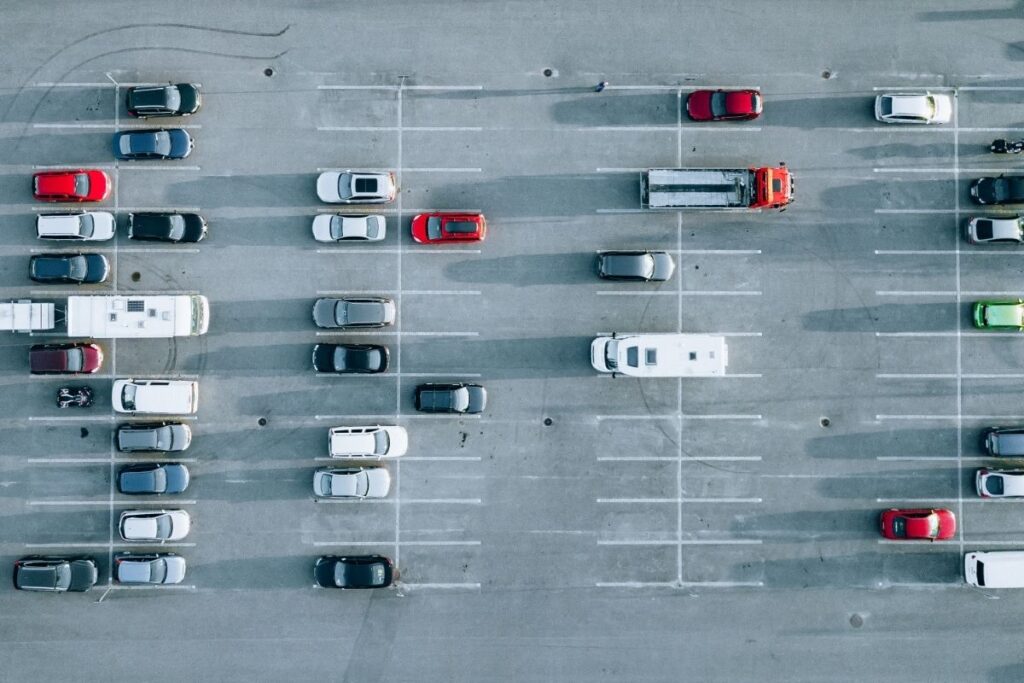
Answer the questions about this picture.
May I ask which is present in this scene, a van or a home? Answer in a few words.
van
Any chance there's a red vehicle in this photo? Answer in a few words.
Yes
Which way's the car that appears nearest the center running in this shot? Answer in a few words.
horizontally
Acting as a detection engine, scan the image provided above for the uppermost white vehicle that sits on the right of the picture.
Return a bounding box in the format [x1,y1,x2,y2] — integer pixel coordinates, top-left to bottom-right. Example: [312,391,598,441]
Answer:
[874,90,953,126]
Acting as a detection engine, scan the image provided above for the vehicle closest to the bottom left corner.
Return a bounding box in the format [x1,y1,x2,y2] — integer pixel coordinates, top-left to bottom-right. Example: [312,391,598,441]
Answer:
[11,554,99,597]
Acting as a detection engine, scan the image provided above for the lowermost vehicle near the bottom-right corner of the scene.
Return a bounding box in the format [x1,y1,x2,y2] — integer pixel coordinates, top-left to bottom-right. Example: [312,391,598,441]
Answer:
[964,550,1024,591]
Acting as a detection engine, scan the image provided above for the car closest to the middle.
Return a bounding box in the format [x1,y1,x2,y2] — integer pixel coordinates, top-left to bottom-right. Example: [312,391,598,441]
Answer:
[416,381,487,417]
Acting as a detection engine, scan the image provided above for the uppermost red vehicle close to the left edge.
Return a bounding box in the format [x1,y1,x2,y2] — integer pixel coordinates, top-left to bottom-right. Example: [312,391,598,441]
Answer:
[32,166,112,203]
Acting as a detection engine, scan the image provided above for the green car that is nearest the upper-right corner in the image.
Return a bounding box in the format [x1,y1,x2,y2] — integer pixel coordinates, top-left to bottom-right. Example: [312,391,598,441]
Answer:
[973,298,1024,332]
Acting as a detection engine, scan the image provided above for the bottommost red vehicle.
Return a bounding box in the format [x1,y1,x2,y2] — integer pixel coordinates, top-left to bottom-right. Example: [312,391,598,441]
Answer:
[879,507,957,544]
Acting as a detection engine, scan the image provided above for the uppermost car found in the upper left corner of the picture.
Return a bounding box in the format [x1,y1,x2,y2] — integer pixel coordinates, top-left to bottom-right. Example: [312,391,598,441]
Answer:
[125,80,201,119]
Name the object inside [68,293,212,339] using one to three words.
camper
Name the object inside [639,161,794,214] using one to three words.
truck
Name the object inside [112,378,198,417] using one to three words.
van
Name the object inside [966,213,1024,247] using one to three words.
car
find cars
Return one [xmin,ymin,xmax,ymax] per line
[969,172,1024,207]
[32,166,112,203]
[116,462,190,498]
[966,213,1024,247]
[11,554,99,597]
[35,208,117,243]
[973,298,1024,332]
[126,209,207,245]
[313,341,390,377]
[879,507,957,544]
[328,424,409,463]
[974,466,1024,499]
[316,168,396,205]
[27,341,104,378]
[980,425,1024,457]
[114,551,186,589]
[416,381,487,417]
[686,86,764,123]
[313,294,396,331]
[312,465,390,502]
[125,80,201,119]
[115,421,192,457]
[598,248,675,284]
[119,508,191,546]
[27,250,110,286]
[411,209,486,246]
[112,125,194,162]
[312,211,387,245]
[314,552,394,593]
[874,90,953,126]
